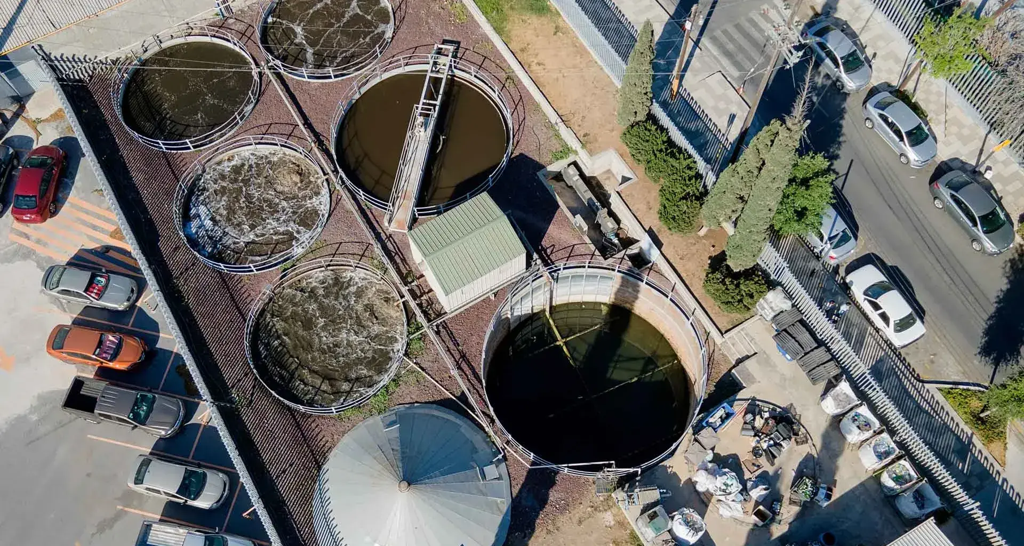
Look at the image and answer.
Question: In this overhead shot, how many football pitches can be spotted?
none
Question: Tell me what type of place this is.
industrial area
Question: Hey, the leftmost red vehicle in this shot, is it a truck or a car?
car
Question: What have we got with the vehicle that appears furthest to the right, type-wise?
car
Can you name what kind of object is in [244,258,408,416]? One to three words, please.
water tank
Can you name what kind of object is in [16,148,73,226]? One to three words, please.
car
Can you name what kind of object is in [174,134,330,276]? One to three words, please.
water tank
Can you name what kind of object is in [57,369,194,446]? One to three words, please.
truck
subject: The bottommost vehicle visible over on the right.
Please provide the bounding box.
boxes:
[844,264,929,350]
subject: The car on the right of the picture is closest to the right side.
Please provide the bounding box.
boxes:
[927,167,1015,256]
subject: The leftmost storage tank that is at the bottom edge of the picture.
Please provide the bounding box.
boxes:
[313,404,511,546]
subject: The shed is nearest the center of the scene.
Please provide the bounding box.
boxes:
[407,192,527,315]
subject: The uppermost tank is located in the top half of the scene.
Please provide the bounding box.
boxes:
[253,0,392,84]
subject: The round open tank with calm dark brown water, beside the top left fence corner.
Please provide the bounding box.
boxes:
[112,24,260,154]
